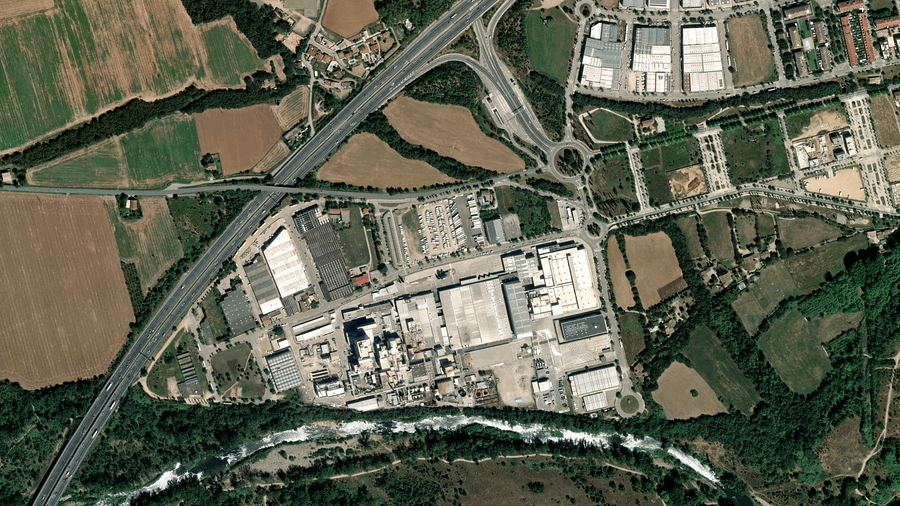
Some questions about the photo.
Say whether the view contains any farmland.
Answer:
Yes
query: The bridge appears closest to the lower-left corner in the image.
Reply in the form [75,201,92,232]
[33,378,127,506]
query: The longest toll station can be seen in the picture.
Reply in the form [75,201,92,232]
[484,69,545,142]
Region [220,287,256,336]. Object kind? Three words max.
building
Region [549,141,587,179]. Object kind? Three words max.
roundabout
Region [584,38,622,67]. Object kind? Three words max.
building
